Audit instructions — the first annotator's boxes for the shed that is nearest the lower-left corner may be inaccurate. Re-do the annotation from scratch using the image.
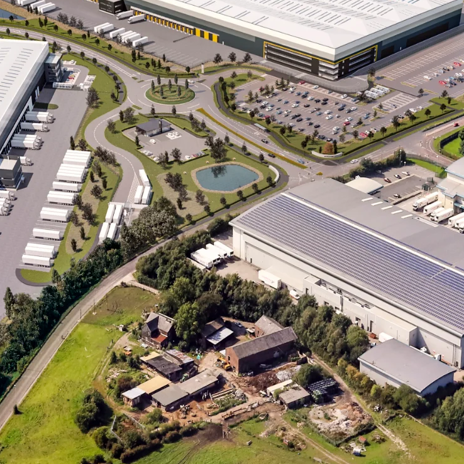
[121,386,146,407]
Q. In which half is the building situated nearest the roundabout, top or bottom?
top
